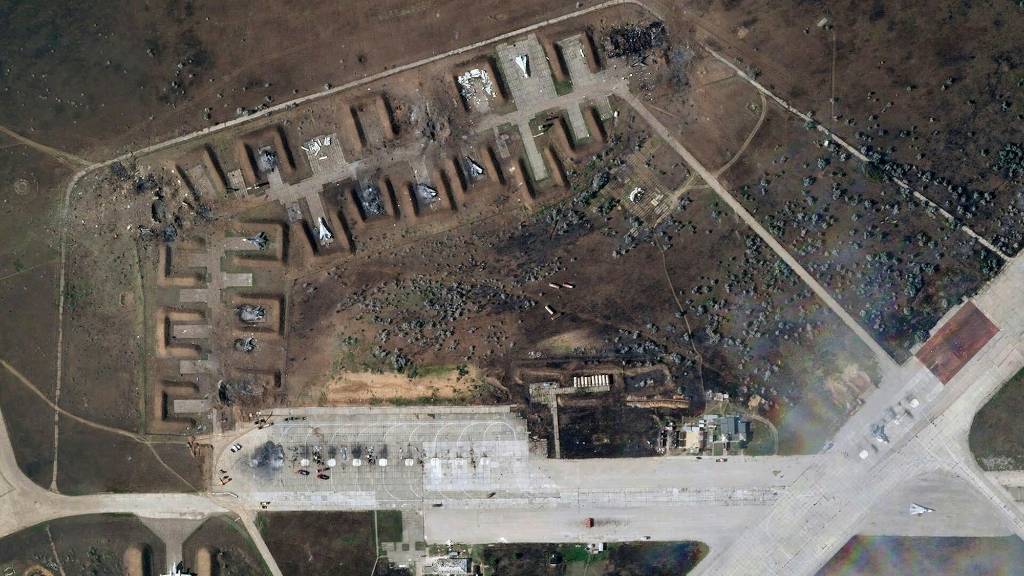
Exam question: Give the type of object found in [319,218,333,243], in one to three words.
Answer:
airplane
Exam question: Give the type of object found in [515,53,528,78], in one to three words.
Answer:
airplane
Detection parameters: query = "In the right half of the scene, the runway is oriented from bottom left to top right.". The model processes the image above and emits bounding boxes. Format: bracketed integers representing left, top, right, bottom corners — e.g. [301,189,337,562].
[688,247,1024,576]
